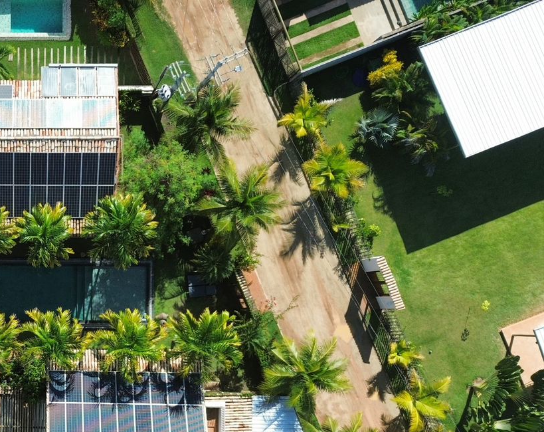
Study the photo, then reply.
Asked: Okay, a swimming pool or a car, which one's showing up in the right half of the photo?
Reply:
swimming pool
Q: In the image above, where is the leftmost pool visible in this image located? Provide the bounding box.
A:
[0,0,71,39]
